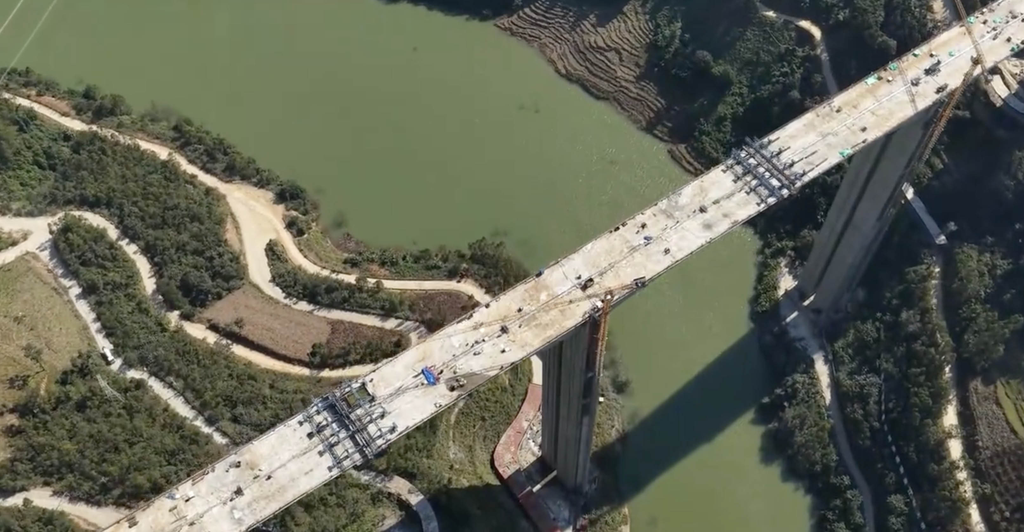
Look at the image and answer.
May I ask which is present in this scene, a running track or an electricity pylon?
electricity pylon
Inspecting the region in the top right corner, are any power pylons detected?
No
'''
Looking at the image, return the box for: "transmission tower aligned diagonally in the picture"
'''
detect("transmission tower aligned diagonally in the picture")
[95,373,127,400]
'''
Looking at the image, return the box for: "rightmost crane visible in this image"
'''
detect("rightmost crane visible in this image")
[895,0,987,177]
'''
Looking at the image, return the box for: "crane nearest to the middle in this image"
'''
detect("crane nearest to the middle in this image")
[435,283,650,397]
